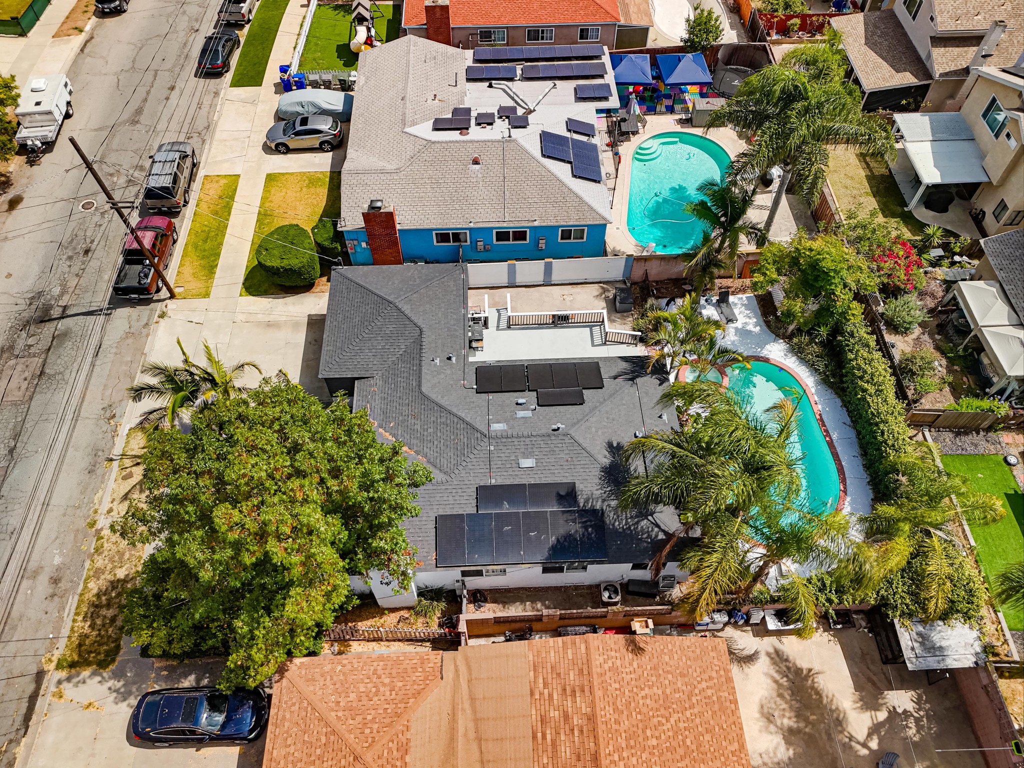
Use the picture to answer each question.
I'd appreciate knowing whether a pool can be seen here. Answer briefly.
Yes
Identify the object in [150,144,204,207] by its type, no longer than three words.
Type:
car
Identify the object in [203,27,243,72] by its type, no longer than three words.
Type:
car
